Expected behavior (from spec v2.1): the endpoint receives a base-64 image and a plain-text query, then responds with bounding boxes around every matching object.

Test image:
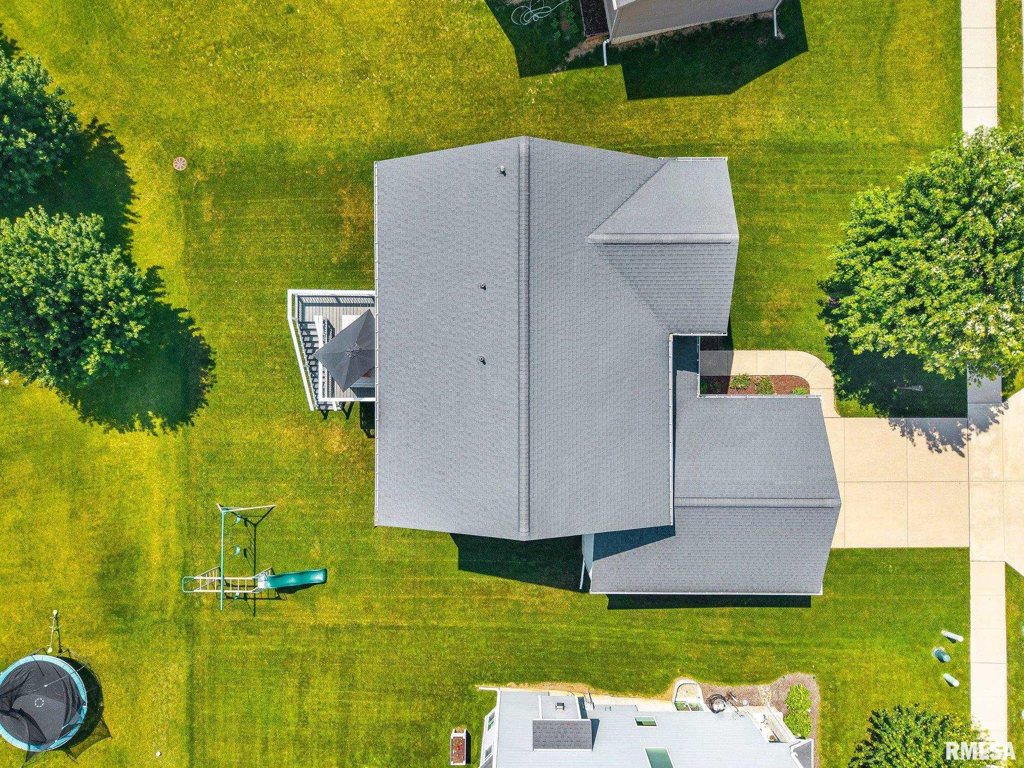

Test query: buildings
[478,685,817,768]
[374,136,842,596]
[603,0,785,65]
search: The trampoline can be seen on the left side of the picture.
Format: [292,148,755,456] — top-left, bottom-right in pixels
[0,648,99,762]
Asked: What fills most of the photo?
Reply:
grass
